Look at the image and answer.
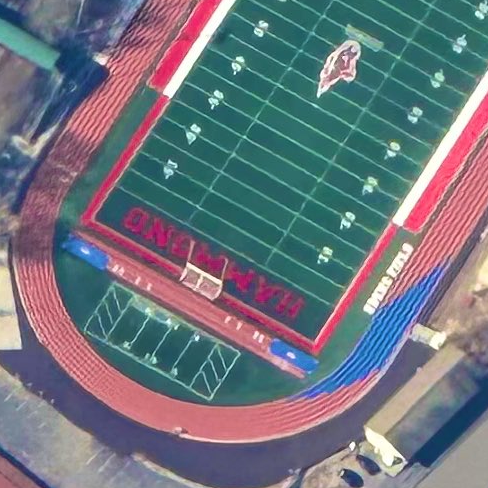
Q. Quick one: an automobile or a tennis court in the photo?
automobile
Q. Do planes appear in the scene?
No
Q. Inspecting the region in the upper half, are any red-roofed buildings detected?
No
